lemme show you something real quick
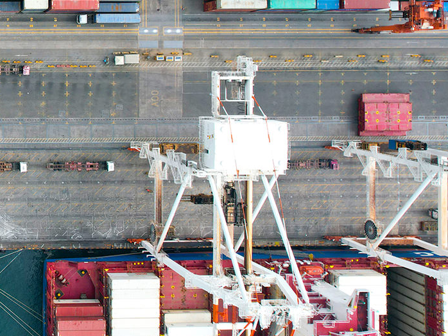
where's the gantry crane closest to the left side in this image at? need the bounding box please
[125,53,317,336]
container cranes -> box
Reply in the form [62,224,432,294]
[125,53,317,336]
[361,0,448,38]
[324,143,448,288]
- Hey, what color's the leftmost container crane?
white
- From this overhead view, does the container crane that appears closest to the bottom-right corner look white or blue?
white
